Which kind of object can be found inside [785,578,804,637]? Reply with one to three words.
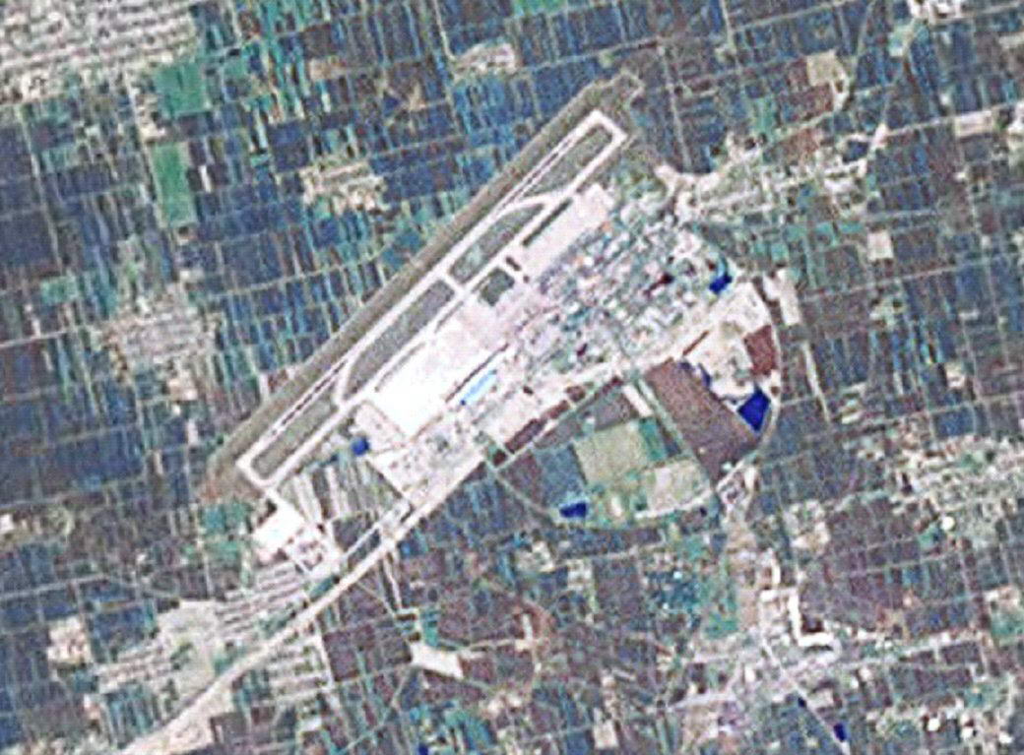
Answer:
building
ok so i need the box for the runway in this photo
[236,112,600,464]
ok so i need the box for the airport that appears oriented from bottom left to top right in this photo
[200,70,643,545]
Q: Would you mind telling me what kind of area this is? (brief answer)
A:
farmland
